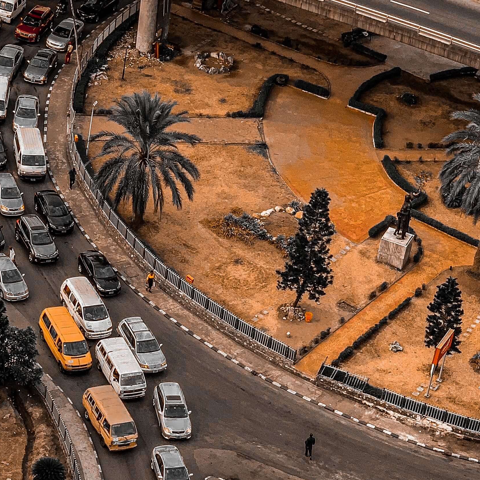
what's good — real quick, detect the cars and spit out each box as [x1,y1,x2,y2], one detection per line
[25,49,62,85]
[12,212,60,265]
[16,3,57,43]
[80,0,123,24]
[75,248,123,299]
[10,94,41,130]
[0,251,24,302]
[147,379,194,442]
[0,172,26,216]
[0,16,10,35]
[147,442,196,480]
[114,315,166,374]
[0,42,27,79]
[34,189,76,234]
[0,129,10,170]
[46,18,89,51]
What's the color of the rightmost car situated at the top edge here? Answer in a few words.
black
